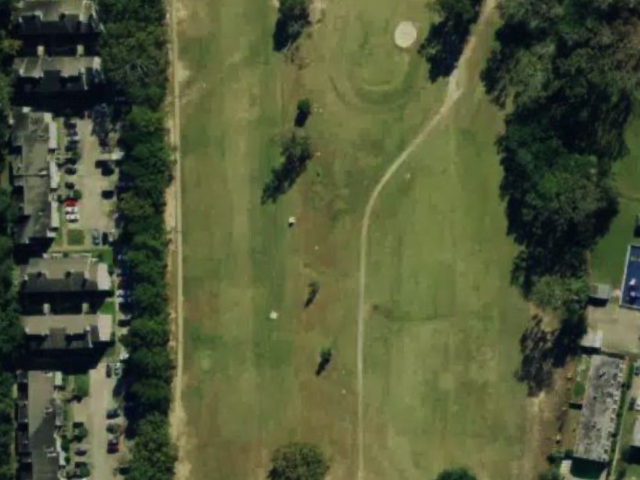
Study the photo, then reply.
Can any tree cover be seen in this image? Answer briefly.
Yes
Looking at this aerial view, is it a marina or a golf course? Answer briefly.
golf course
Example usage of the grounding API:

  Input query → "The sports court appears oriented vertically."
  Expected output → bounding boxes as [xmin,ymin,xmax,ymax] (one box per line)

[620,245,640,310]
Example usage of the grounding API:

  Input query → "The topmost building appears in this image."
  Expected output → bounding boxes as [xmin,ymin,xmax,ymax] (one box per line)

[13,0,100,33]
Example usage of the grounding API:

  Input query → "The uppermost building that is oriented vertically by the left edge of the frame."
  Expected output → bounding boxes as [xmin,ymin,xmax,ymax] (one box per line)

[12,108,59,243]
